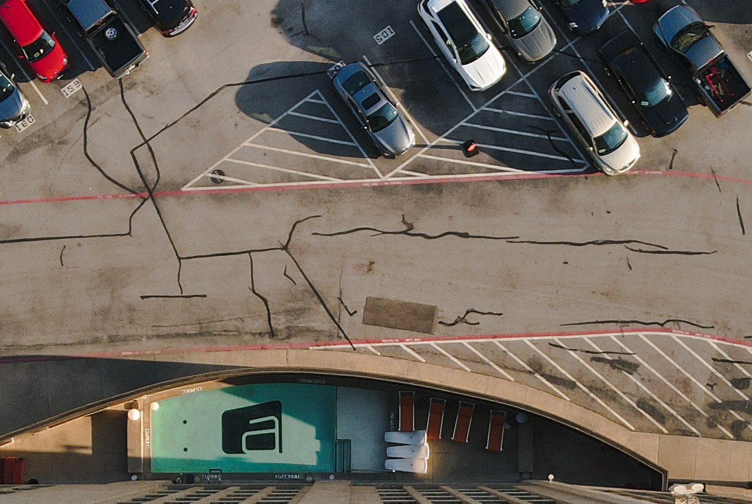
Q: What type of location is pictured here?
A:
parking lot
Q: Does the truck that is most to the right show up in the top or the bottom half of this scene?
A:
top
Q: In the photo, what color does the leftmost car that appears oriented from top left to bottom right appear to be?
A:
red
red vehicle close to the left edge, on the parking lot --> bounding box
[0,0,70,88]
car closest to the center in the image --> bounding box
[331,59,414,163]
